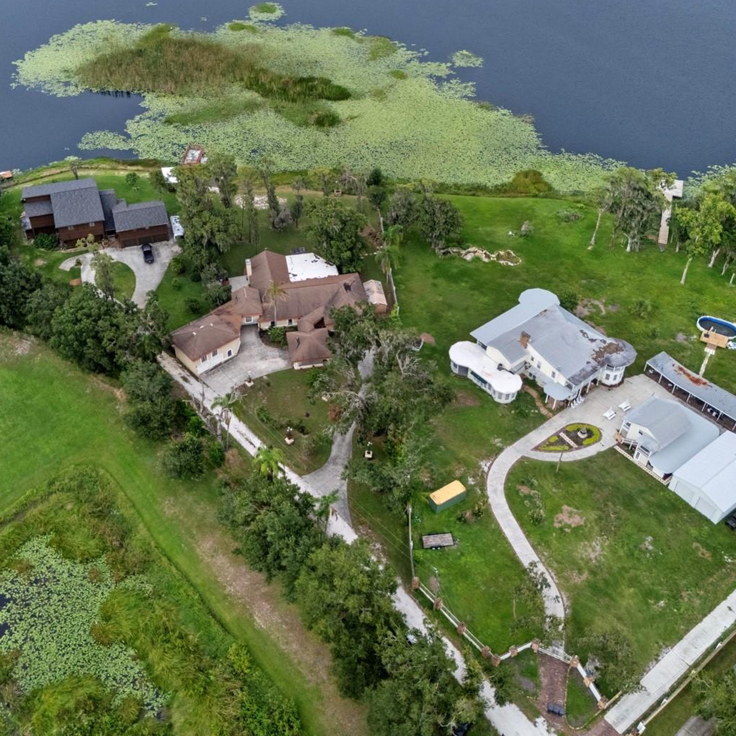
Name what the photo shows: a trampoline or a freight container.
freight container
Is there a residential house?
Yes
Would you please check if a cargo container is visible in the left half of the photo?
No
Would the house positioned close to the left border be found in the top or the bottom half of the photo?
top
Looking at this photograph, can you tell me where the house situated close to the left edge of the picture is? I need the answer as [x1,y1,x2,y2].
[21,180,169,248]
